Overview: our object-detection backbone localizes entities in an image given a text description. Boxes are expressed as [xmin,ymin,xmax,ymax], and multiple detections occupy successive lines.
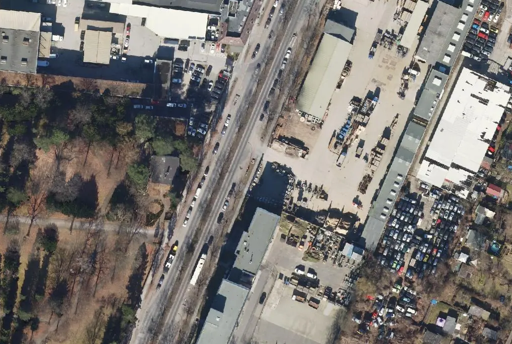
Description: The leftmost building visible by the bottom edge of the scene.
[194,278,250,344]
